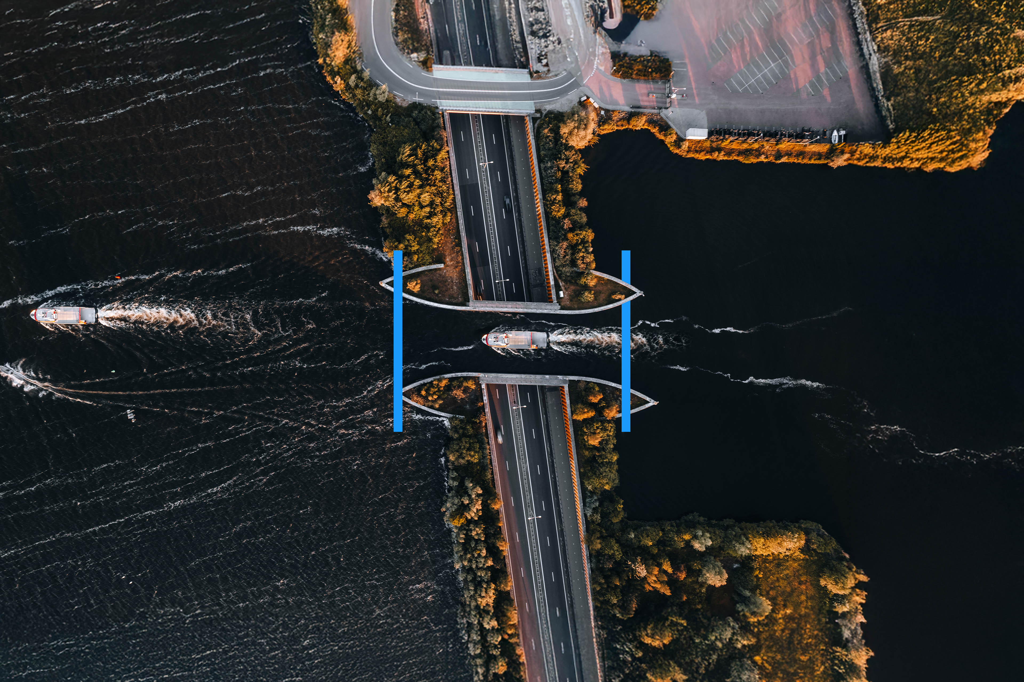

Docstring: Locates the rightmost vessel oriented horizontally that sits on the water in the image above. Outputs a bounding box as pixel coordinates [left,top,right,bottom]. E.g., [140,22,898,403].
[481,331,549,349]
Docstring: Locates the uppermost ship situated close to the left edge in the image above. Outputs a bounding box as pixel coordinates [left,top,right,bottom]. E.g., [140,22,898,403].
[27,306,101,325]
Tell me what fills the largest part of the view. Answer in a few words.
water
